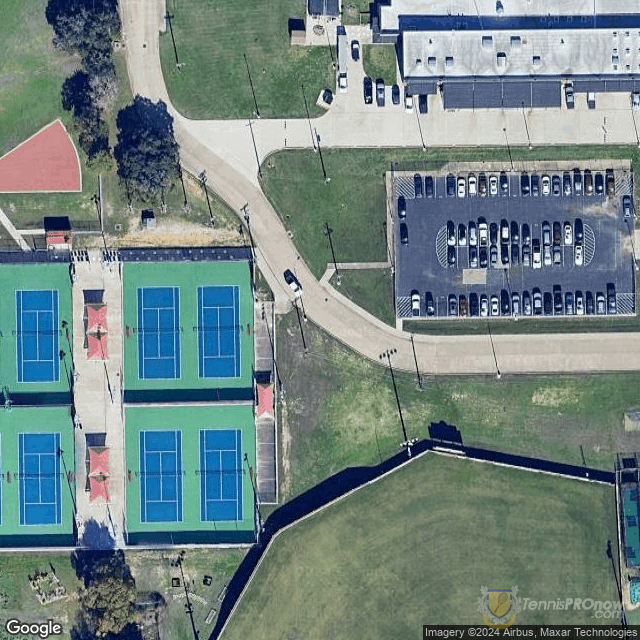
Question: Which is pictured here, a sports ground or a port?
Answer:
sports ground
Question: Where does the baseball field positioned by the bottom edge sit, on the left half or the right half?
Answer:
right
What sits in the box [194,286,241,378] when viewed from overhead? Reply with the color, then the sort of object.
blue tennis court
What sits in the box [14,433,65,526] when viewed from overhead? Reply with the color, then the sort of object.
blue tennis court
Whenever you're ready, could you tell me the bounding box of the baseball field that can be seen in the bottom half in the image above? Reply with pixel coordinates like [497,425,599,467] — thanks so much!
[218,451,623,640]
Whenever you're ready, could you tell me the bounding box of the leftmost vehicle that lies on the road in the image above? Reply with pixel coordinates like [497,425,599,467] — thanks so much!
[285,272,302,295]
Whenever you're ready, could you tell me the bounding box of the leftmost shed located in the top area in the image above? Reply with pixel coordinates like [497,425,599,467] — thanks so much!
[48,229,72,246]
